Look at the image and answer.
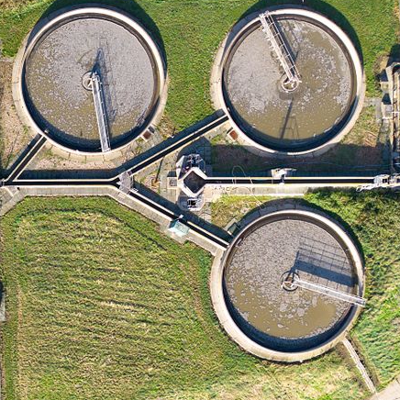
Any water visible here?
Yes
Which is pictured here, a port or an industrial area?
industrial area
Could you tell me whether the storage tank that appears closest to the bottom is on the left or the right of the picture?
right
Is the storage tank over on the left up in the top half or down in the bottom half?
top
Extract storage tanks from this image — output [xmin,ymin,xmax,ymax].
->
[13,8,167,162]
[210,208,366,363]
[210,10,366,165]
